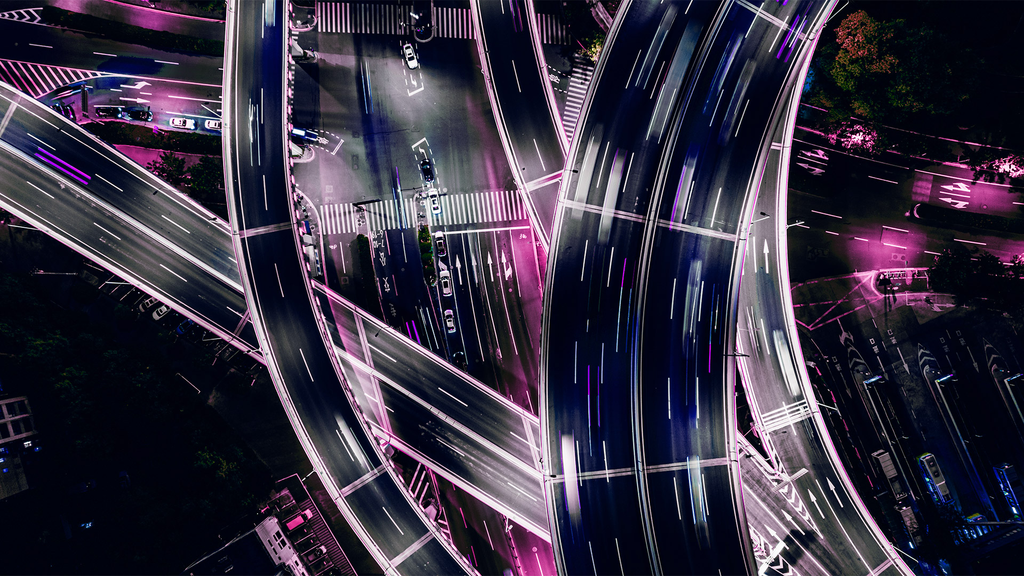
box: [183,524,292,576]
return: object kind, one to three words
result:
building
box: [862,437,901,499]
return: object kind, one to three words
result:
bus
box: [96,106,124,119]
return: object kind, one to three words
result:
vehicle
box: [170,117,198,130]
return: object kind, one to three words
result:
vehicle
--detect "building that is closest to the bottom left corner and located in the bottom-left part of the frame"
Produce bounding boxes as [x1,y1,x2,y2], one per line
[0,449,51,498]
